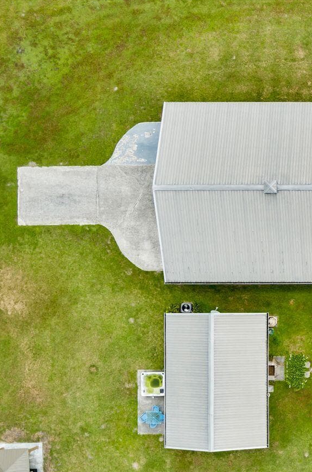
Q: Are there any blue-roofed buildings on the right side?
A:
No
